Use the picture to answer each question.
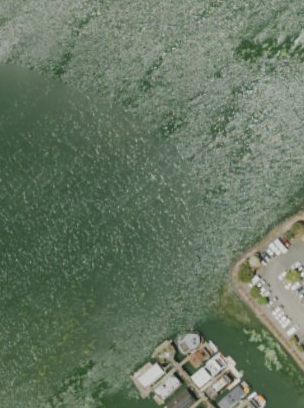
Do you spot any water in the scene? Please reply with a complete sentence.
Yes, the picture does contain water.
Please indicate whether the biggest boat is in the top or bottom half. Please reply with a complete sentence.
Seen from above, the biggest boat lies in the bottom half of the view.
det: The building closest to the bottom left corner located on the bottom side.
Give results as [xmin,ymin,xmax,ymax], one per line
[130,360,164,396]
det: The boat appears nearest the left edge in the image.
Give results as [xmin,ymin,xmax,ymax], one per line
[180,332,204,354]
